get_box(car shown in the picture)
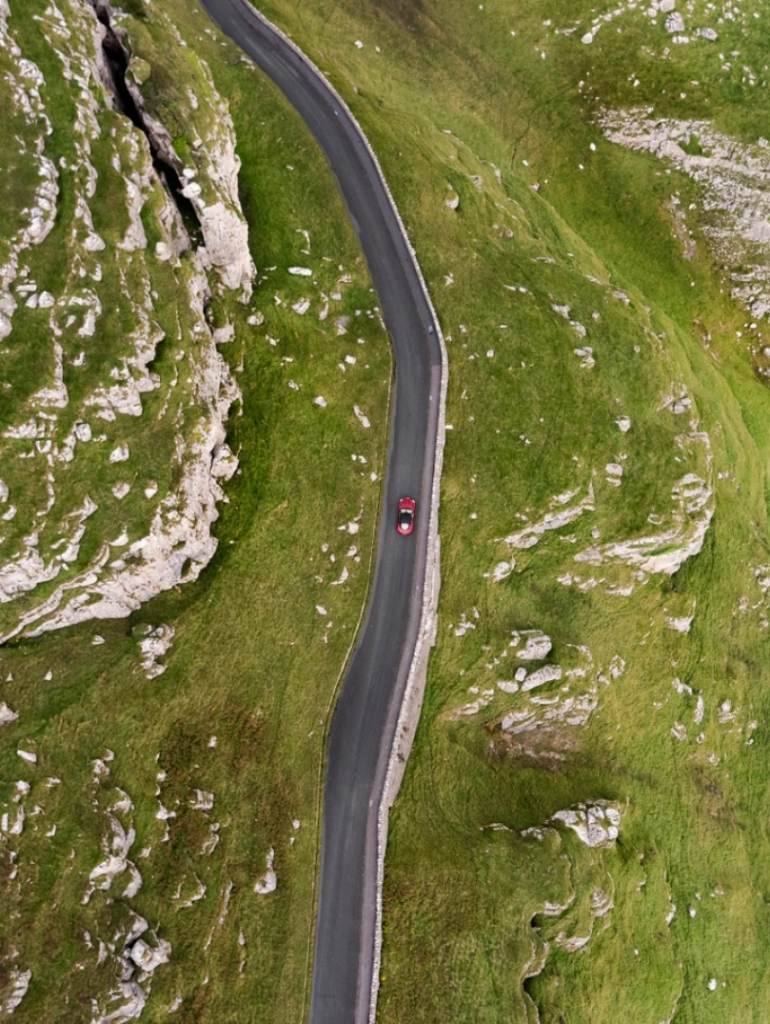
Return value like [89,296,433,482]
[397,496,416,536]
